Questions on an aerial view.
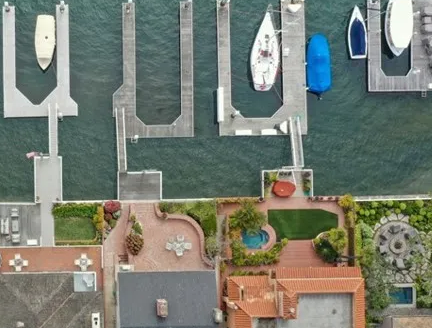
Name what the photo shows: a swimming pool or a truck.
swimming pool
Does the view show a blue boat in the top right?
Yes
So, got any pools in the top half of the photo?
No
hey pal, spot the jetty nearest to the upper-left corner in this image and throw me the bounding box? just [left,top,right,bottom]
[2,0,78,118]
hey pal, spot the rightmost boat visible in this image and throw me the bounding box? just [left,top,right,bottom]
[385,0,415,57]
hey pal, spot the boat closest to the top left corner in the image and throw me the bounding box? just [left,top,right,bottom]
[34,13,57,72]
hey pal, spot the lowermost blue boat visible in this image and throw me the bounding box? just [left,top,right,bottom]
[304,34,331,97]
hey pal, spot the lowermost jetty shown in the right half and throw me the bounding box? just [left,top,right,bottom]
[258,169,316,201]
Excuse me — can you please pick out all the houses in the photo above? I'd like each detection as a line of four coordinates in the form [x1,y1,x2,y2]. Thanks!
[0,272,106,328]
[117,271,222,328]
[224,267,365,328]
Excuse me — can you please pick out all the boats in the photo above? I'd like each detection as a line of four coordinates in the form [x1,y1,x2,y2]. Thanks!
[304,34,331,97]
[234,4,299,100]
[34,13,57,72]
[385,0,415,57]
[348,6,367,60]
